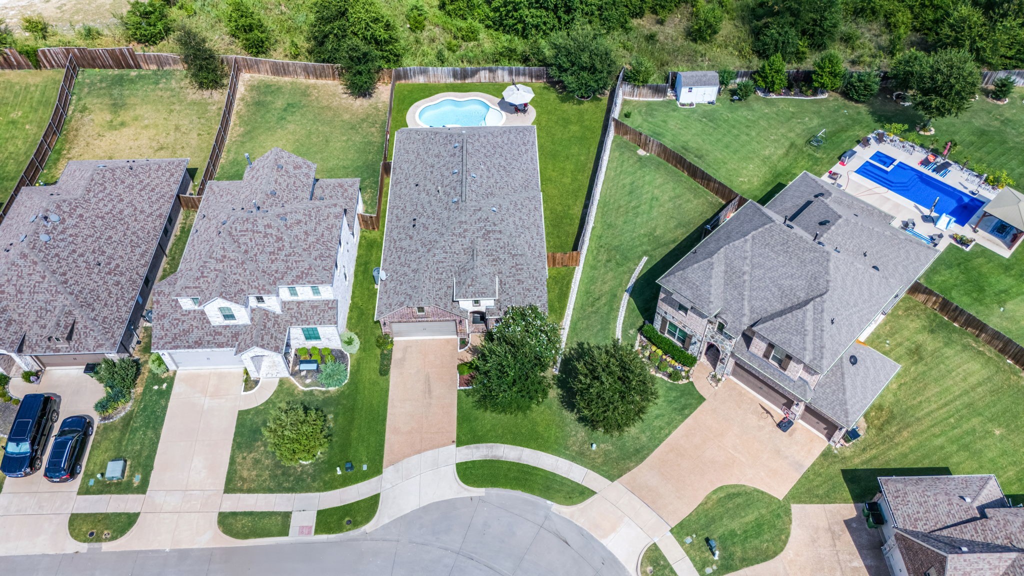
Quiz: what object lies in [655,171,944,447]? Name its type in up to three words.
house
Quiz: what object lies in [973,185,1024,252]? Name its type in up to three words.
building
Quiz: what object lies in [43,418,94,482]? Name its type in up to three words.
car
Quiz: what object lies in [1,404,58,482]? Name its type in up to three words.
car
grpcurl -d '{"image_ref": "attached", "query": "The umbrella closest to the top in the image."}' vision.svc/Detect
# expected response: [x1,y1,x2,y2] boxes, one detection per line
[503,81,534,108]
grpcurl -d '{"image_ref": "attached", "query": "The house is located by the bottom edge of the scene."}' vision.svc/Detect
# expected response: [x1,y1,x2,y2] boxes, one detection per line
[869,472,1024,576]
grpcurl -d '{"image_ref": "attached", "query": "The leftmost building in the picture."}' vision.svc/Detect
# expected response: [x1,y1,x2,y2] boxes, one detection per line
[0,156,197,376]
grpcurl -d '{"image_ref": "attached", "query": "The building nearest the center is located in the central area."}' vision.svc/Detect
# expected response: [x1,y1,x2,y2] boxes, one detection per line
[373,125,551,342]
